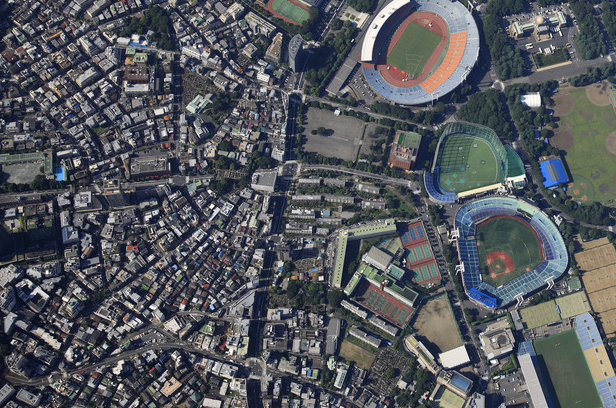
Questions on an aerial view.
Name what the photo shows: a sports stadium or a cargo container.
sports stadium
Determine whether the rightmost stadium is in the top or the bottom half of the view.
bottom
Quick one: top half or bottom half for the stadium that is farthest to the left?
top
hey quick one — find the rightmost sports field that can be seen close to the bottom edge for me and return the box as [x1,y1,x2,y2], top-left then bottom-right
[534,332,602,408]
